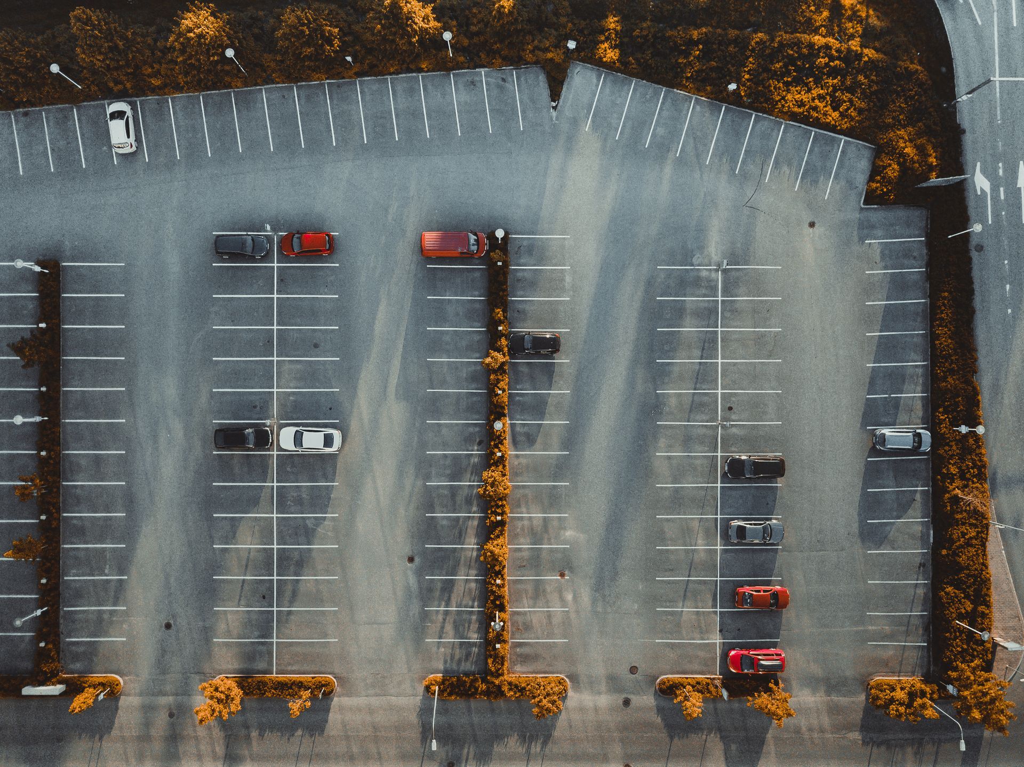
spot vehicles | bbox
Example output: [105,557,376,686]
[106,103,140,156]
[728,520,784,546]
[871,427,930,455]
[725,454,785,482]
[214,232,271,259]
[420,230,485,259]
[280,426,342,454]
[282,229,335,257]
[509,330,561,357]
[734,585,789,612]
[214,425,273,452]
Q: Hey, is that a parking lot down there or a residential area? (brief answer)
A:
parking lot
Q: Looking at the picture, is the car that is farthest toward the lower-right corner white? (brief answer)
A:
No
